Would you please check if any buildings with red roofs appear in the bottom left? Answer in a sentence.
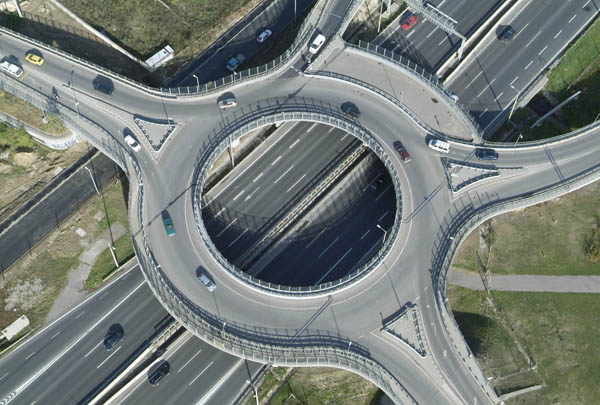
No, in the bottom left there is no building with a red roof.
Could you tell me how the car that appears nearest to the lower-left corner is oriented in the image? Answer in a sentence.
Seen from above, the car that appears nearest to the lower-left corner lies diagonally.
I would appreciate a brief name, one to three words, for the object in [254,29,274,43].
car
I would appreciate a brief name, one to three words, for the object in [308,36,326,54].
car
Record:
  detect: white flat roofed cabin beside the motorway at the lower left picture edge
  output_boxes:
[0,315,31,344]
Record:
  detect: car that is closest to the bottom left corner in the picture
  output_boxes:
[101,324,125,348]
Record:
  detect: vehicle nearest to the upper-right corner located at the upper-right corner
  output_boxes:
[496,25,517,42]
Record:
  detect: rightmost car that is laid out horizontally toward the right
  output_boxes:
[475,148,499,160]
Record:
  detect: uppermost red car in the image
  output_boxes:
[400,15,419,31]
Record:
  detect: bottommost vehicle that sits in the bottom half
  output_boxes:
[148,360,172,384]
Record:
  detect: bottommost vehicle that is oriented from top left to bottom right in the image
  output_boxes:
[197,269,217,292]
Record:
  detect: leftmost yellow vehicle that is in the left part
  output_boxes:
[23,53,46,67]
